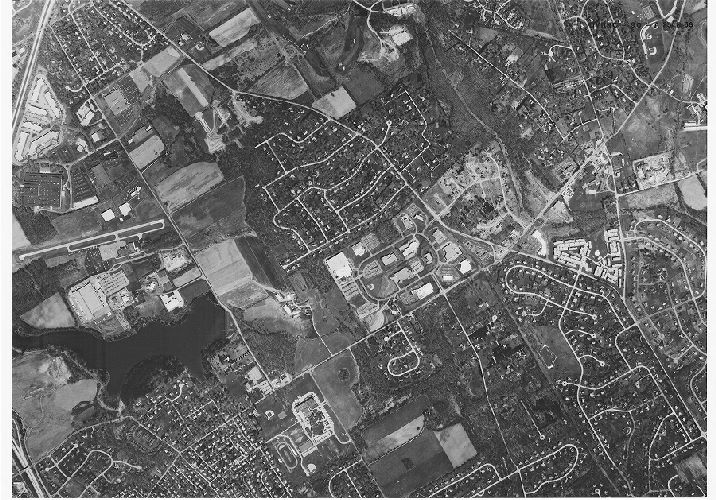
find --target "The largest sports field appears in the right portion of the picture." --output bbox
[531,328,580,383]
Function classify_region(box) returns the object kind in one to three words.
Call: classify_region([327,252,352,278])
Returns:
building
